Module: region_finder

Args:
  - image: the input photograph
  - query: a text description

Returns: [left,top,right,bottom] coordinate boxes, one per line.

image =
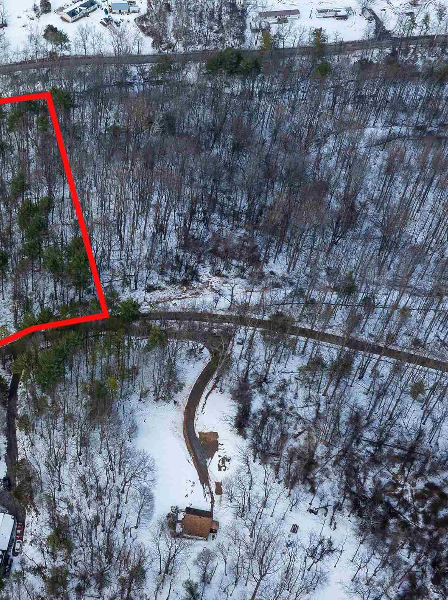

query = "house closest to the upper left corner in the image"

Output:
[57,0,100,23]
